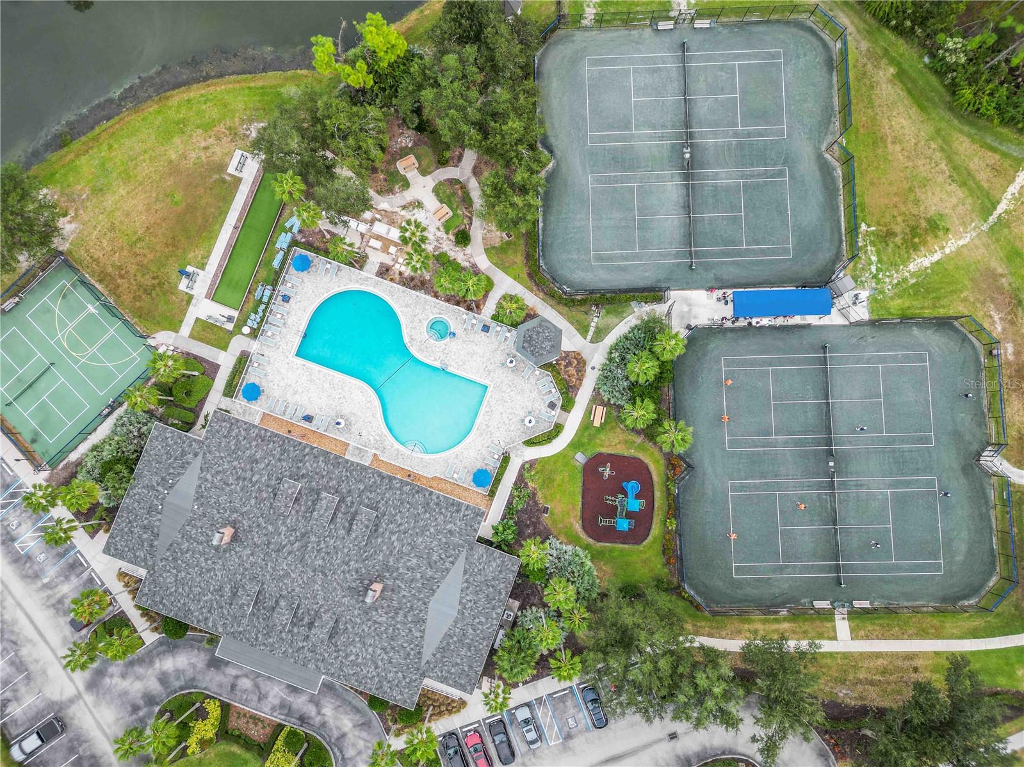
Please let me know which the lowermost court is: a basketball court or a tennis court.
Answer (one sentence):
The lowermost court in the image is a tennis court.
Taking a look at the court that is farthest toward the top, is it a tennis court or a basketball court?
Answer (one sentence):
The court that is farthest toward the top appears to be a tennis court.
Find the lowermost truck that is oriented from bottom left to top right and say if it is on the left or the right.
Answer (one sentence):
You can find the lowermost truck that is oriented from bottom left to top right on the left side of the picture.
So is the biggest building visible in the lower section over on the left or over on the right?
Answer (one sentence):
The biggest building visible in the lower section appears in the left half of the scene.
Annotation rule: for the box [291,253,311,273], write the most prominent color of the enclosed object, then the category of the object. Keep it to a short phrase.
blue umbrella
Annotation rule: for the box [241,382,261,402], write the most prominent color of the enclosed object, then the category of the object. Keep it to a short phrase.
blue umbrella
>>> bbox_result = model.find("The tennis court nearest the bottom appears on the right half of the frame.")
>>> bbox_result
[682,459,998,608]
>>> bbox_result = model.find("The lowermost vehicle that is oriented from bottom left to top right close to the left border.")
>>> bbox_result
[14,715,65,759]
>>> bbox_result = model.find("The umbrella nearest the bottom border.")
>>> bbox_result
[472,468,492,488]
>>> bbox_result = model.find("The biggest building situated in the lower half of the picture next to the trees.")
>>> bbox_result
[103,409,520,711]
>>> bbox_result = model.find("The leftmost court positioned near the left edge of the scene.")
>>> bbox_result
[0,257,150,470]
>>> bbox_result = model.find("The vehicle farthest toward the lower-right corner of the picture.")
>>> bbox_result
[581,684,610,732]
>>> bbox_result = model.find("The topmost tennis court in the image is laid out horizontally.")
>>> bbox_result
[538,21,838,155]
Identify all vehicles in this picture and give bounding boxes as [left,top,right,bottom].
[581,684,610,732]
[464,729,492,767]
[488,717,517,764]
[14,715,65,759]
[440,732,468,767]
[514,704,542,751]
